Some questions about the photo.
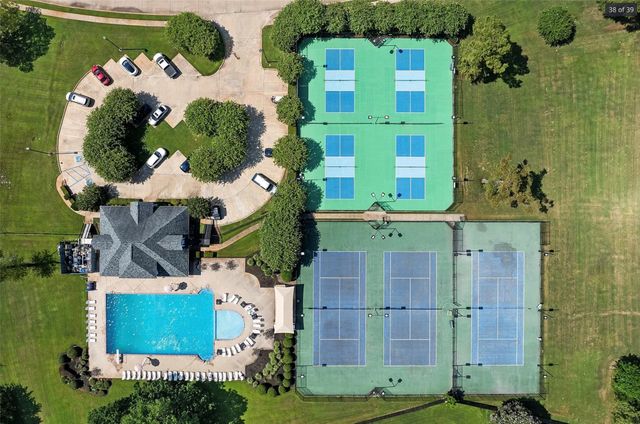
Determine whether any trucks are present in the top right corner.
No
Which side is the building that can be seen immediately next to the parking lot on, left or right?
left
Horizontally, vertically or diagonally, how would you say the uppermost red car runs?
diagonally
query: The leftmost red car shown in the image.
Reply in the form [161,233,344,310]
[92,63,112,84]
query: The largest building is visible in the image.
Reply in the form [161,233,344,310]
[92,202,190,278]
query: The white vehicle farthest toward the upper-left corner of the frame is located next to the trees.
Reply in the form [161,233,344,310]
[66,91,91,106]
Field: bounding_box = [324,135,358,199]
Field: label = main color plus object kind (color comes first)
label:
blue sports court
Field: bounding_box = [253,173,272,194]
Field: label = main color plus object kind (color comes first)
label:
white vehicle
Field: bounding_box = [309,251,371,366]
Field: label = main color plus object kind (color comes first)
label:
blue tennis court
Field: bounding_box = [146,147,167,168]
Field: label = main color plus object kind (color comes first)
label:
white car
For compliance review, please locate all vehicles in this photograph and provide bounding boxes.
[266,148,274,157]
[148,103,168,124]
[120,55,141,75]
[92,63,112,84]
[253,173,272,194]
[177,159,187,173]
[66,91,91,106]
[135,103,154,124]
[146,147,167,168]
[155,53,179,78]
